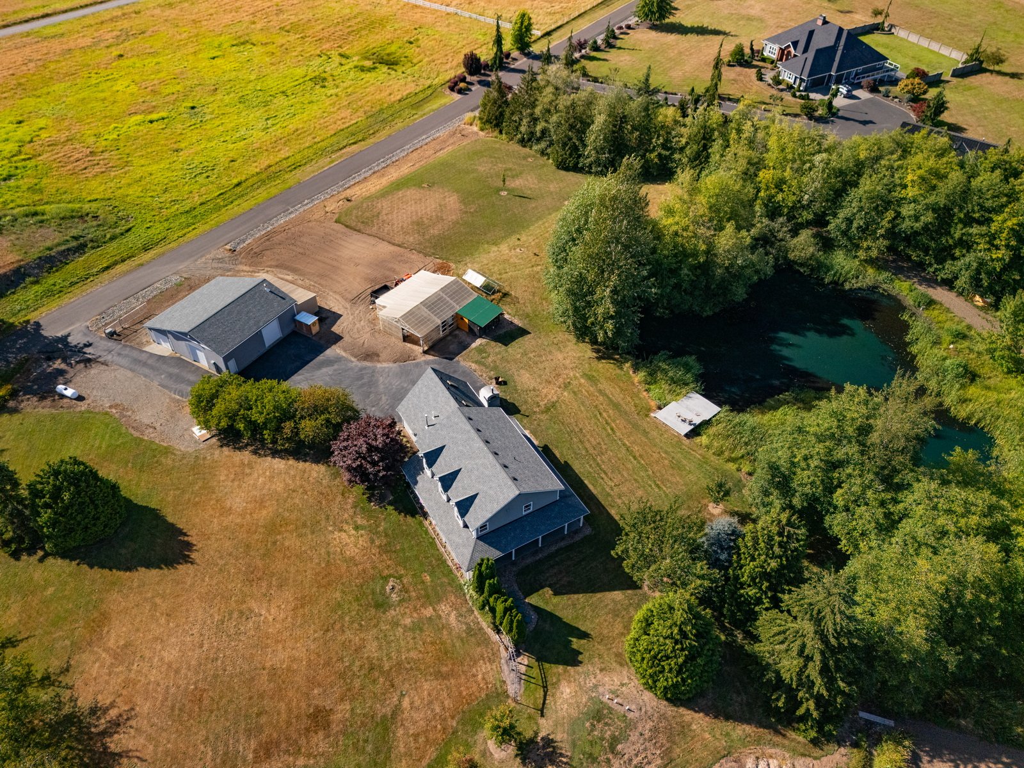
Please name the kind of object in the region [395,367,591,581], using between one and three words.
house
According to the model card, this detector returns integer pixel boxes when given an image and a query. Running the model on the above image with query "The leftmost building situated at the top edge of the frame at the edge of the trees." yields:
[757,11,907,92]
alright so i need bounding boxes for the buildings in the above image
[757,11,907,92]
[372,272,479,353]
[143,277,299,380]
[888,123,1000,171]
[395,367,591,581]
